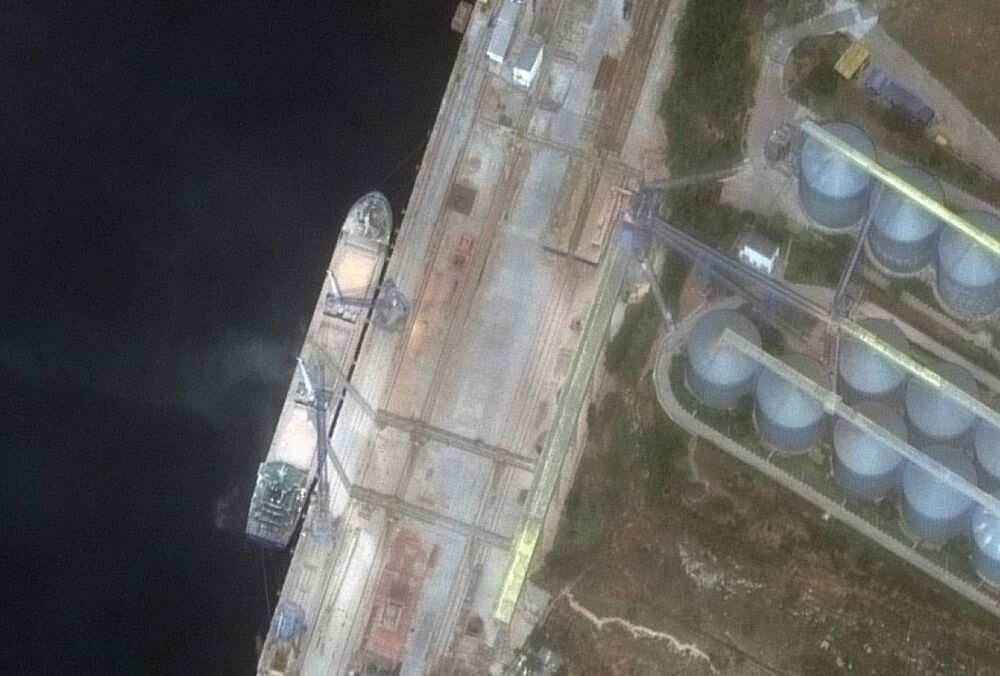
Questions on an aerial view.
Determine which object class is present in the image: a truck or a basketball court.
truck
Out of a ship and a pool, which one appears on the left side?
ship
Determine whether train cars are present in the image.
Yes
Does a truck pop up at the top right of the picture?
Yes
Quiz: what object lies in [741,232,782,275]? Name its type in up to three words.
house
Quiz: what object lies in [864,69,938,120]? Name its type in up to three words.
truck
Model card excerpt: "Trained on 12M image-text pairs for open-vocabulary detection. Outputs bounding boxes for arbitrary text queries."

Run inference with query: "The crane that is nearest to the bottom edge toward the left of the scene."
[266,607,312,661]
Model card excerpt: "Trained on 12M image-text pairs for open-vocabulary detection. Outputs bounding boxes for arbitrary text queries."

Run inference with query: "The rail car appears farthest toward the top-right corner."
[595,51,622,91]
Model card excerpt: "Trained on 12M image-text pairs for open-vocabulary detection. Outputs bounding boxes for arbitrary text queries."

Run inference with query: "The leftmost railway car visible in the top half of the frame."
[446,177,479,213]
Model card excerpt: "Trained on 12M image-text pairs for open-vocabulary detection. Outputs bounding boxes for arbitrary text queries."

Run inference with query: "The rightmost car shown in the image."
[934,131,951,146]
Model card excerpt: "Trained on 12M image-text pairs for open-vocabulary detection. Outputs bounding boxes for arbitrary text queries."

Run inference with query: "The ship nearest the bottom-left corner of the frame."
[246,189,389,553]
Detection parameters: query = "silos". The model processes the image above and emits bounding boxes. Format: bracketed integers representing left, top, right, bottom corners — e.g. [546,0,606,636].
[828,402,910,501]
[752,355,833,454]
[896,445,979,544]
[933,213,1000,318]
[966,489,1000,587]
[900,363,981,454]
[683,311,763,410]
[831,319,912,410]
[865,169,947,275]
[795,125,877,231]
